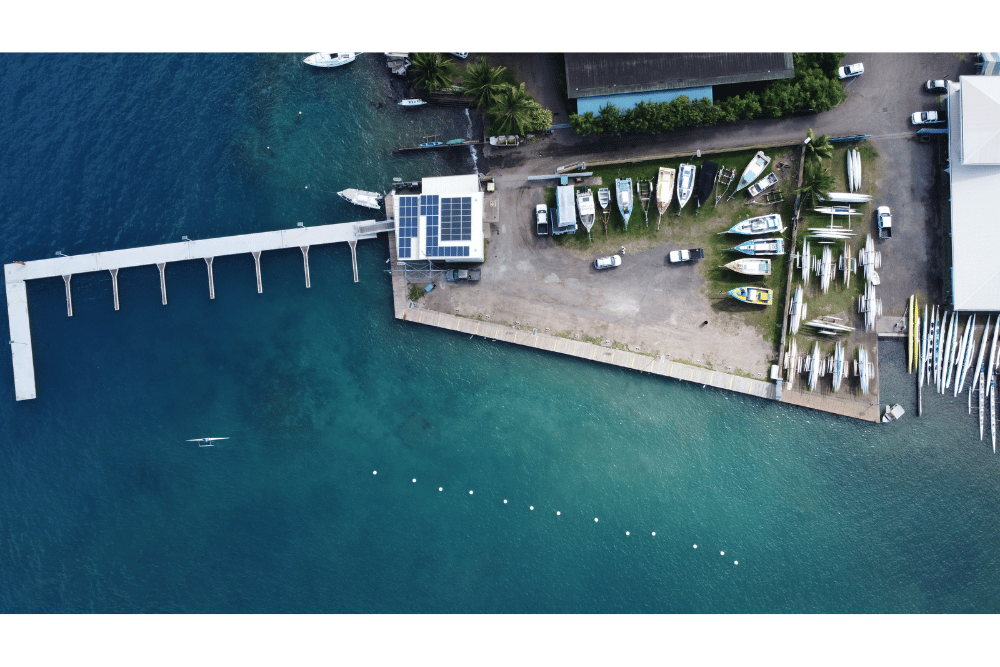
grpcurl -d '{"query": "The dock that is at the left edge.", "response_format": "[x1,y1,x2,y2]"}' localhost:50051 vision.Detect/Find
[5,220,377,400]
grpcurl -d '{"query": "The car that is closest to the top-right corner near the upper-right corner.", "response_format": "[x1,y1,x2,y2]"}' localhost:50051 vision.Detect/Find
[926,77,953,92]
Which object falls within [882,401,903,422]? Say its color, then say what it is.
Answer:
white boat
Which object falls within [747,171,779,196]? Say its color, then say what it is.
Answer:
white truck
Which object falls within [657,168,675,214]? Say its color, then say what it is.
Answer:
white boat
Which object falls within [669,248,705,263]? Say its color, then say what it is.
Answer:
white vehicle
